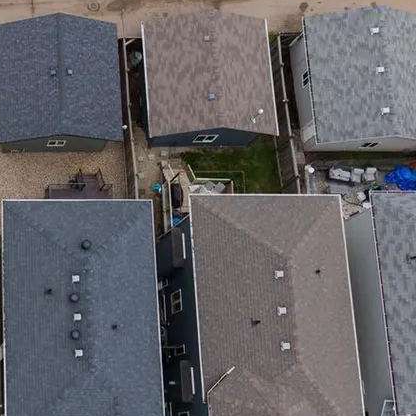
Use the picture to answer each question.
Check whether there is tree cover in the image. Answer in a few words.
No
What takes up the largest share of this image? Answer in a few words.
buildings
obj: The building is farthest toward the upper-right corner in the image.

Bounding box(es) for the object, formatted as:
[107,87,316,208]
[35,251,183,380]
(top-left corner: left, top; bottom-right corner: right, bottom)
[285,2,416,156]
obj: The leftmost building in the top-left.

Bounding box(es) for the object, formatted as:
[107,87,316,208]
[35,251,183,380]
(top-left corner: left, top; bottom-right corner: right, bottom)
[0,12,124,157]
